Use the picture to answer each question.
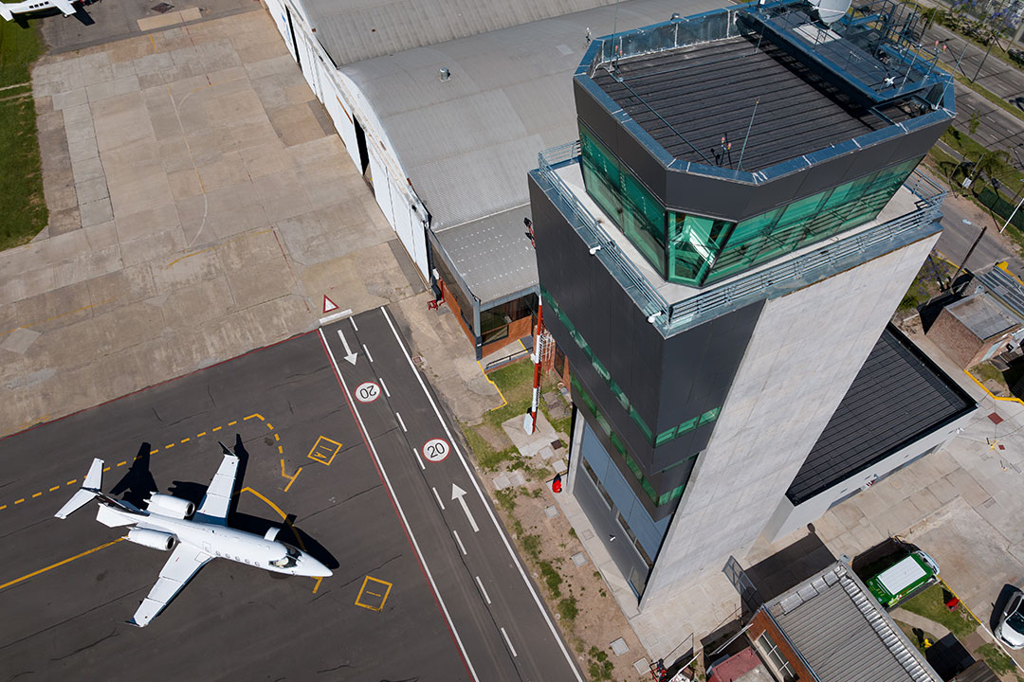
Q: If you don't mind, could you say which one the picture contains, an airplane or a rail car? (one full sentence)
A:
I can see an airplane in this picture.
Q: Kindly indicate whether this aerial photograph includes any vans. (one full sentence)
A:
Yes, the picture does show a van.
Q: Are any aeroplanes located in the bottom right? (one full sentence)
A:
No, there is no aeroplane in the bottom right.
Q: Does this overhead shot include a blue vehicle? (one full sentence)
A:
No, the picture doesn't show any blue vehicle.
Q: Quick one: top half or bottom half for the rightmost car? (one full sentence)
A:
You can find the rightmost car in the bottom half.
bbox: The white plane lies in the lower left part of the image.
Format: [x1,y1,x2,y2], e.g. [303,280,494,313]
[57,444,333,626]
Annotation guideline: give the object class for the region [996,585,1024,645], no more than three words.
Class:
car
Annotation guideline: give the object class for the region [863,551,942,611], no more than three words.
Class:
van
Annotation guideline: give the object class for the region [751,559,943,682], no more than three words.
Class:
building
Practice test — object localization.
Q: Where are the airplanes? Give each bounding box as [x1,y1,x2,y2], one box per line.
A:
[0,0,105,22]
[57,444,333,626]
